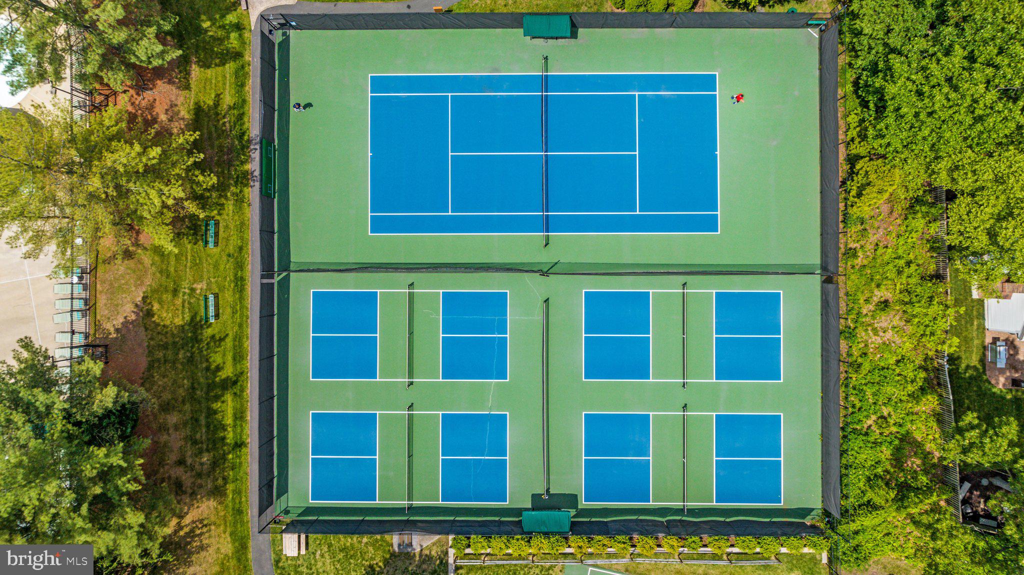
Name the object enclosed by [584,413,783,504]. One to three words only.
sports court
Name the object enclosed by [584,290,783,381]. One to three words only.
sports court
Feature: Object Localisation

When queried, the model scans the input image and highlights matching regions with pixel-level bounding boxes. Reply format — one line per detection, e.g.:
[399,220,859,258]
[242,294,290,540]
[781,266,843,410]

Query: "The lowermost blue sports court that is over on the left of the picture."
[310,412,508,503]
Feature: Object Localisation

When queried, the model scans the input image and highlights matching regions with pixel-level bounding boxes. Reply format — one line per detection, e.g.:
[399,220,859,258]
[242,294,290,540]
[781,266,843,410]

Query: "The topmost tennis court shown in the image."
[277,29,821,273]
